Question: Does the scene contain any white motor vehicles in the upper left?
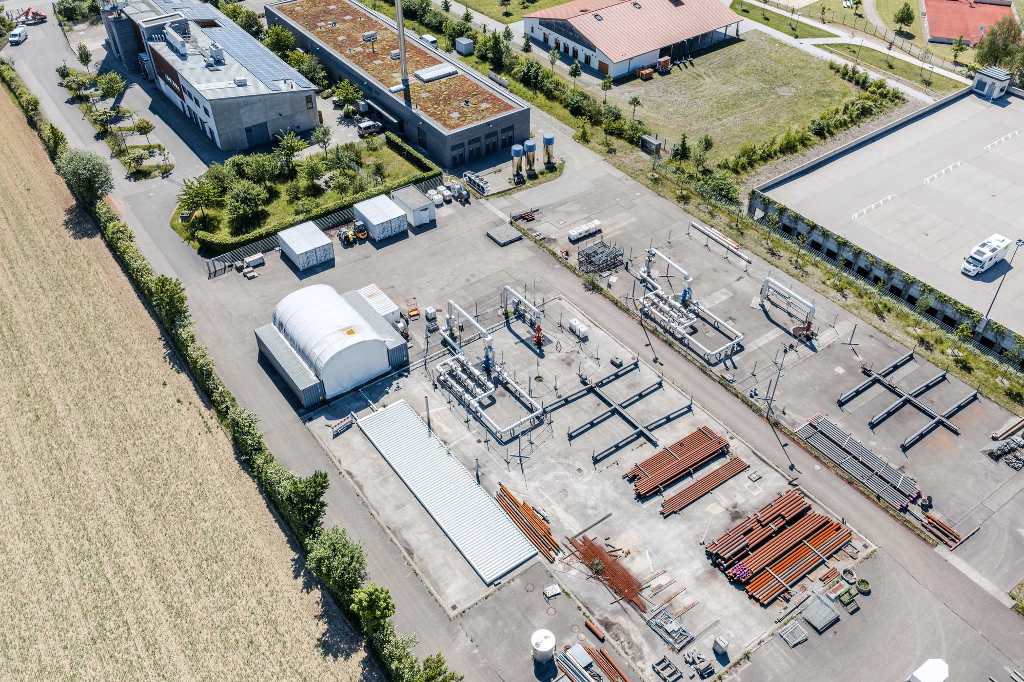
Yes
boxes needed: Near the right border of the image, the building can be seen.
[973,66,1016,99]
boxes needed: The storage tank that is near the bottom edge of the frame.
[528,627,559,668]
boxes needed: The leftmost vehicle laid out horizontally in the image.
[4,8,47,24]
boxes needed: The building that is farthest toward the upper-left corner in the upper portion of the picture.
[84,0,321,151]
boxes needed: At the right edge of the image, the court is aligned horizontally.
[927,0,1023,45]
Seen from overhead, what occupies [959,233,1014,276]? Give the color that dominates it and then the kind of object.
white vehicle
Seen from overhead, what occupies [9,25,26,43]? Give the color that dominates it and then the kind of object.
white vehicle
